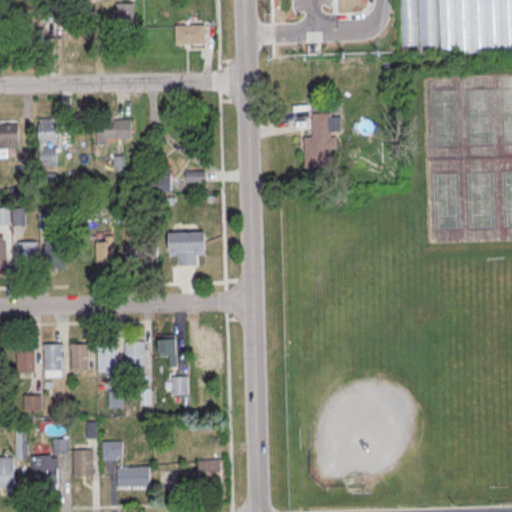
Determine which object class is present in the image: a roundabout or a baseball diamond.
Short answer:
baseball diamond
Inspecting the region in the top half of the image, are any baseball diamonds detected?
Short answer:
No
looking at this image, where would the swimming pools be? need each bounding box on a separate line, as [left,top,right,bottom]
[356,118,374,136]
[43,424,66,437]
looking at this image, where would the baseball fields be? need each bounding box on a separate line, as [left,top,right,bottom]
[314,376,420,482]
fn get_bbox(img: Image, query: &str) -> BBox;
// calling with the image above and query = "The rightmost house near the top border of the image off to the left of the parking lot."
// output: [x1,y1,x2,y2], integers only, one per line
[175,25,204,48]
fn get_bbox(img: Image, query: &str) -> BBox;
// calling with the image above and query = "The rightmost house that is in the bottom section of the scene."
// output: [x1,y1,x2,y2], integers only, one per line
[198,460,221,482]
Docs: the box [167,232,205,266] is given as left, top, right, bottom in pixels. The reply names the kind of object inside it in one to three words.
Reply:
house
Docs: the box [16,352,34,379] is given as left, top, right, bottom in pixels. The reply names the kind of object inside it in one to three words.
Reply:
house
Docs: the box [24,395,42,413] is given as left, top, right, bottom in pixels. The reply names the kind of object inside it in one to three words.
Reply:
building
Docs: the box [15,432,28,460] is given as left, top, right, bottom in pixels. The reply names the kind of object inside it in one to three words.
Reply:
shed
